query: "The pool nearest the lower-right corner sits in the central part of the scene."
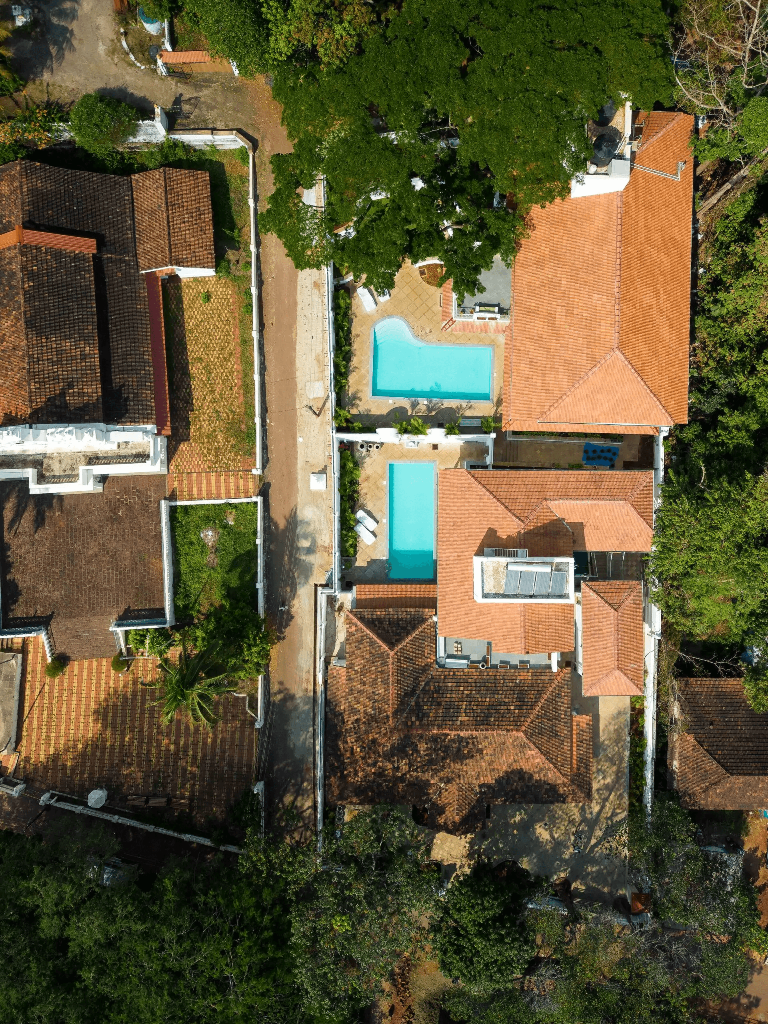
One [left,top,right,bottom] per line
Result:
[385,460,437,582]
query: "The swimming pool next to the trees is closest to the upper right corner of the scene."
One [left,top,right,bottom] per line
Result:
[368,314,496,405]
